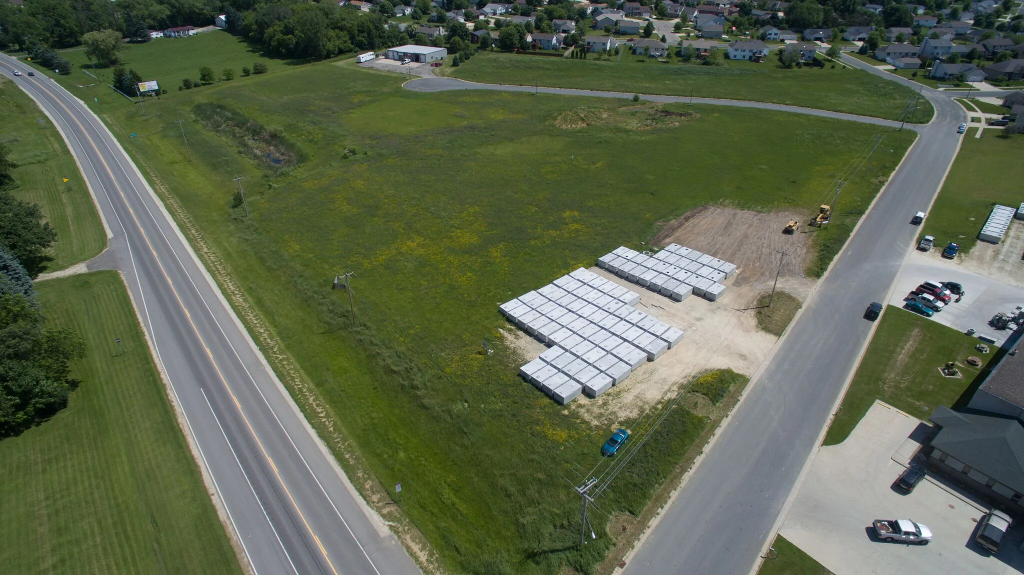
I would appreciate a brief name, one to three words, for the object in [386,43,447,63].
building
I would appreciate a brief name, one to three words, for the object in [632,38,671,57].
house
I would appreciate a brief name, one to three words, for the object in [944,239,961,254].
vehicle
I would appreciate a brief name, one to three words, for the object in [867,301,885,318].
car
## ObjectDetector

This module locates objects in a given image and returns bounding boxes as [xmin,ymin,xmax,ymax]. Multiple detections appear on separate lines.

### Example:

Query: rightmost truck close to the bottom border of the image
[978,507,1015,547]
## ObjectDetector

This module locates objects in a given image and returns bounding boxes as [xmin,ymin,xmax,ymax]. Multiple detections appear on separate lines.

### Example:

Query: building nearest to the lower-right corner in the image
[925,405,1024,516]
